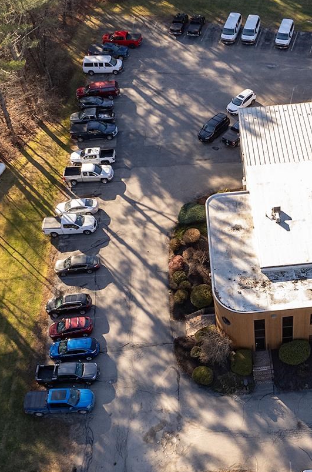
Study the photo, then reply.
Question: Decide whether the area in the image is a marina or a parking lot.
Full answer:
This image shows a parking lot.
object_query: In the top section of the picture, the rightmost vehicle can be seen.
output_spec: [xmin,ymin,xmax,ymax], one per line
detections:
[274,16,293,51]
